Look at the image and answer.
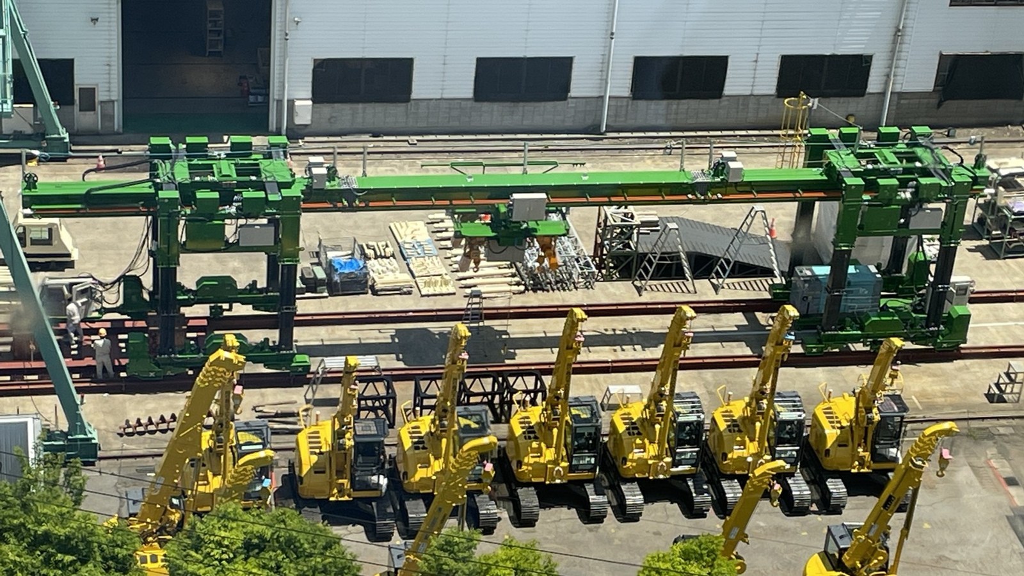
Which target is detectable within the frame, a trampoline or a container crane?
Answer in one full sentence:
It is a container crane that can be seen here.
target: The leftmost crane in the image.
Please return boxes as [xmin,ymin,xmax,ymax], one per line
[0,0,101,462]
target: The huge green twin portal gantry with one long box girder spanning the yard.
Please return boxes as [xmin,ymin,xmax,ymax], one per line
[20,121,997,373]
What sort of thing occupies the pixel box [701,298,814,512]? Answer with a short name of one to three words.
crane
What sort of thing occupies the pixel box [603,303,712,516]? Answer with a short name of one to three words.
crane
